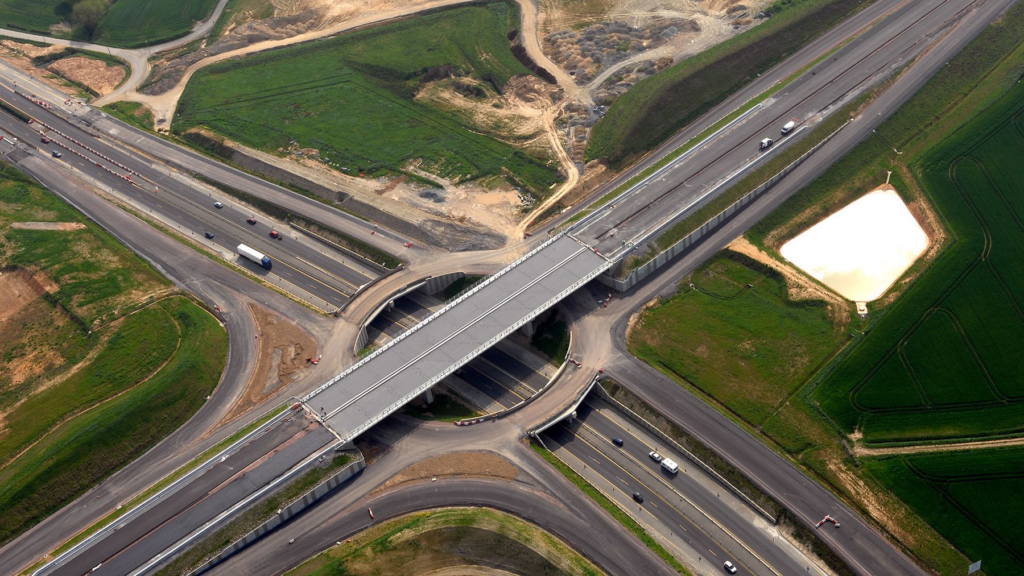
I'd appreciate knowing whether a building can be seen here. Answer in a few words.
No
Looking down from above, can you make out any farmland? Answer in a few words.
Yes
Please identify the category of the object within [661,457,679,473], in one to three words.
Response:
camper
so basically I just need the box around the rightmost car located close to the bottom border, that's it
[723,560,737,573]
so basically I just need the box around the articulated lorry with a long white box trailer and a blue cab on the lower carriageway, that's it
[238,245,273,270]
